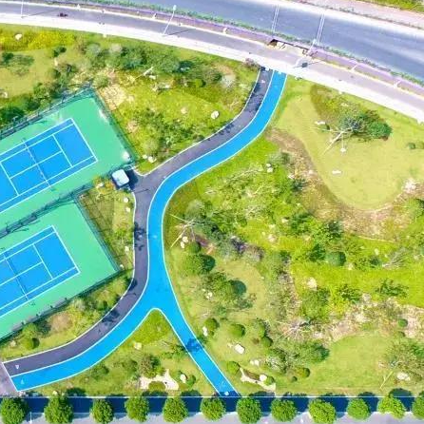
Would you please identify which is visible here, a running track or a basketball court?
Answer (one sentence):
The one in the frame is a running track.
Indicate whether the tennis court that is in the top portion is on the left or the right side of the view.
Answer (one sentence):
The tennis court that is in the top portion is on the left side of the image.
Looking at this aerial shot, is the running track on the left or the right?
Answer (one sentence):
It is on the left.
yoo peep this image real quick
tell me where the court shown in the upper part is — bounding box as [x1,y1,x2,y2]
[0,85,135,231]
